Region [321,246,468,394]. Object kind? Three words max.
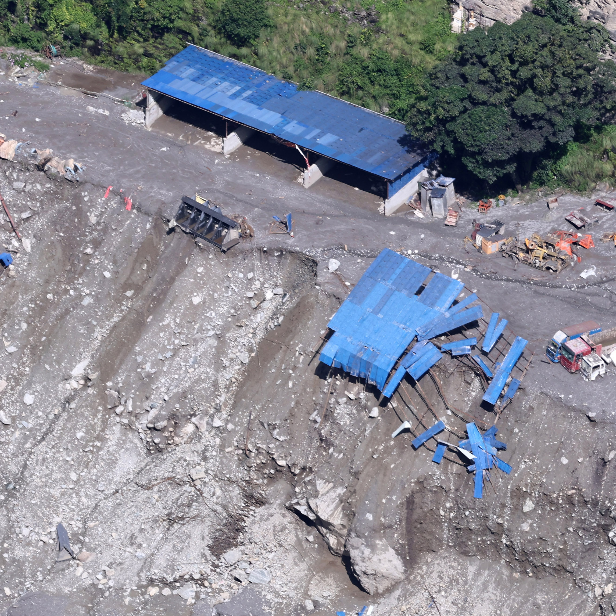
shed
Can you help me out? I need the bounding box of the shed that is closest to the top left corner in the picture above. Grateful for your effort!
[139,45,432,217]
